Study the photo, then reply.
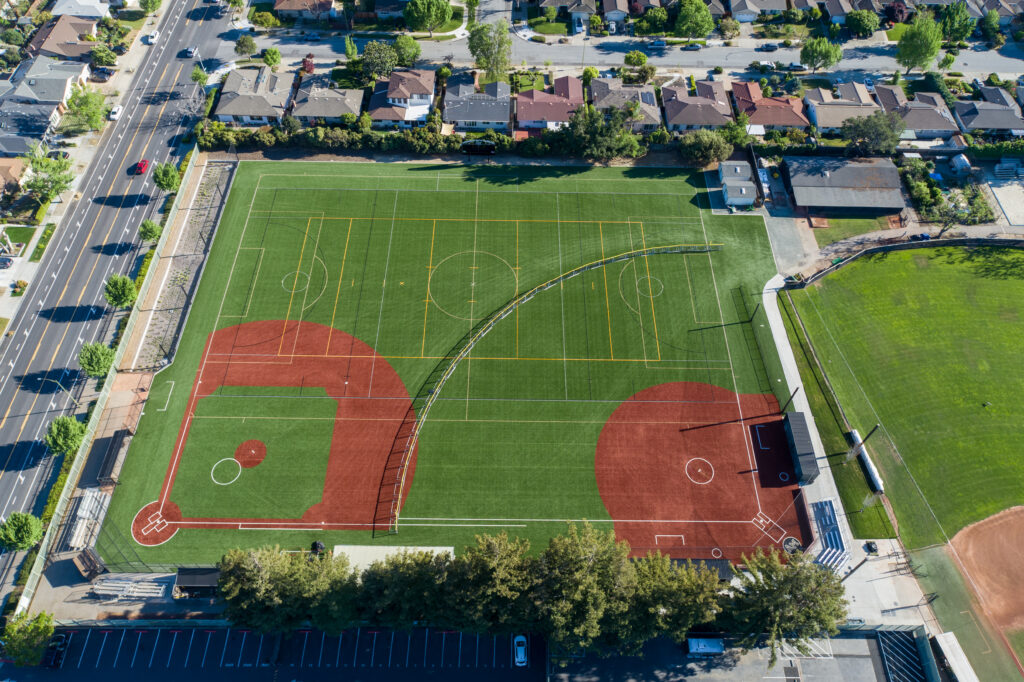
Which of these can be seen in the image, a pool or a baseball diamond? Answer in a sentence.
The one in the frame is a baseball diamond.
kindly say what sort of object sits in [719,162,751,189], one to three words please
shed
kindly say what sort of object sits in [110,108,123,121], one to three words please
vehicle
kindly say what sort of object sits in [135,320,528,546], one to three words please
baseball field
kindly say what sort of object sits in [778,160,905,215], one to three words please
barn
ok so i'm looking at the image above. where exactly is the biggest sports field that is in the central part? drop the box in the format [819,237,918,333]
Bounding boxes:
[99,161,827,580]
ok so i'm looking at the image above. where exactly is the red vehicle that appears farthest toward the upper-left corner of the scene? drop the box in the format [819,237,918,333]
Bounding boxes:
[136,161,149,174]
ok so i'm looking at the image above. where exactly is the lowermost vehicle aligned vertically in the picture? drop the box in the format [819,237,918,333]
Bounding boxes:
[513,634,527,668]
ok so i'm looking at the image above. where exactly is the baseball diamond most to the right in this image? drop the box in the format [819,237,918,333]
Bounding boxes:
[786,242,1024,682]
